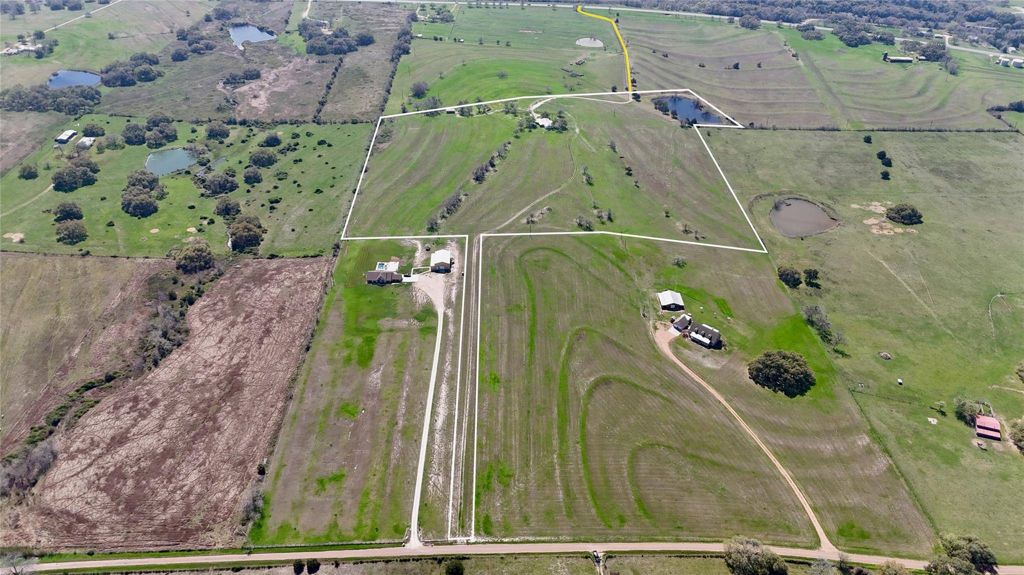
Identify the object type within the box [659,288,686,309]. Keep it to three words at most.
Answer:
building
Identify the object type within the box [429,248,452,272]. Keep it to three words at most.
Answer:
building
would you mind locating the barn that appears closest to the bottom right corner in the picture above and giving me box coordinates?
[970,410,1004,441]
